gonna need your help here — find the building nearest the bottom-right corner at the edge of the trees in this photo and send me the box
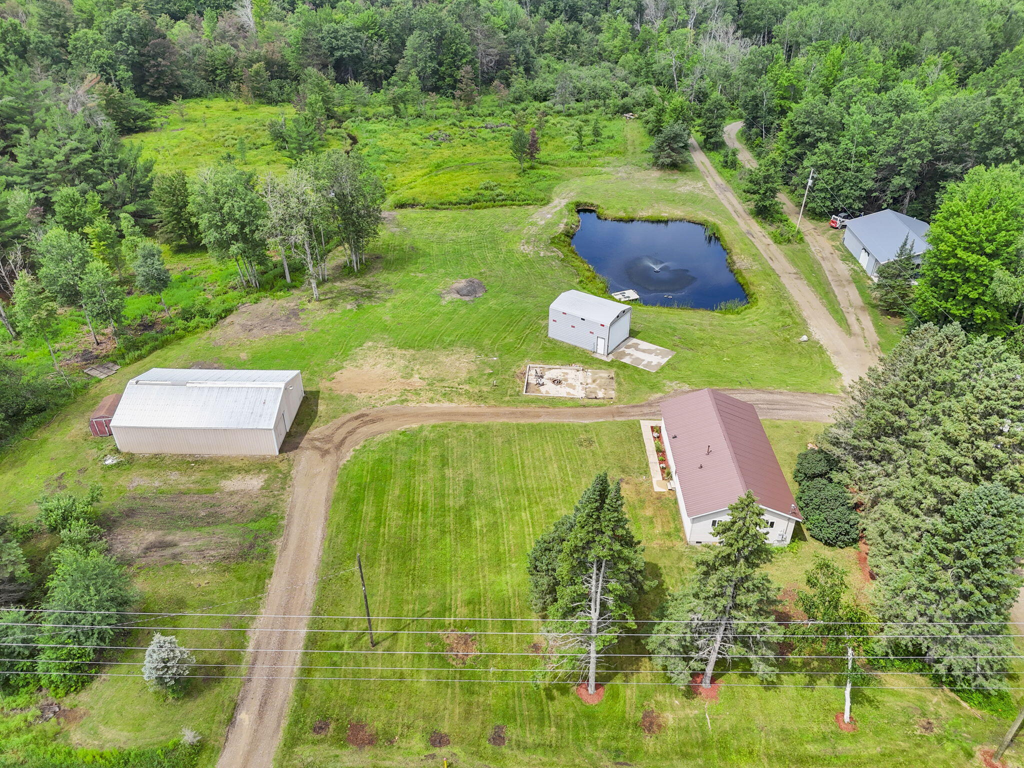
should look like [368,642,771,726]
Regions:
[659,387,803,545]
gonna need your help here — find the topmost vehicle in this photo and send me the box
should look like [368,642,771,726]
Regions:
[831,212,853,229]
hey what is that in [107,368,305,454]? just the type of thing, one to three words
barn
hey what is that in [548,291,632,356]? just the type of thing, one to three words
building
